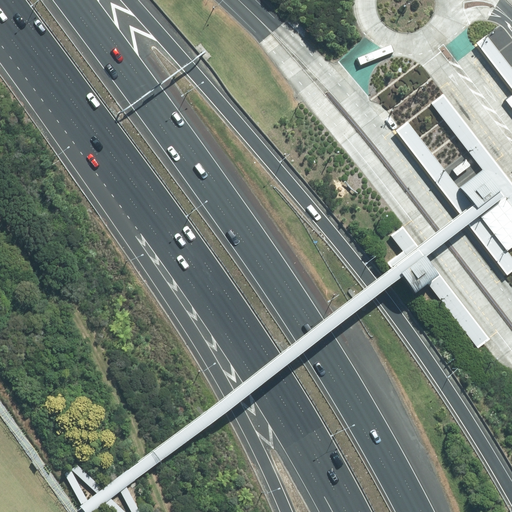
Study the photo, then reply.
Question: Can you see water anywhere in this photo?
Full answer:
No, the scene doesn't show any water.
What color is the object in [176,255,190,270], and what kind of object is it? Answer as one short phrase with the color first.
white vehicle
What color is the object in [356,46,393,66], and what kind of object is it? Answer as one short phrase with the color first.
white bus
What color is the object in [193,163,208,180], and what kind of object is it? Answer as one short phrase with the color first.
white vehicle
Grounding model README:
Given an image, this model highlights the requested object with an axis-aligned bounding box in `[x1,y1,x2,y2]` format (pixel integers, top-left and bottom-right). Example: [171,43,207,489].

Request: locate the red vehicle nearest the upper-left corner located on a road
[110,47,124,63]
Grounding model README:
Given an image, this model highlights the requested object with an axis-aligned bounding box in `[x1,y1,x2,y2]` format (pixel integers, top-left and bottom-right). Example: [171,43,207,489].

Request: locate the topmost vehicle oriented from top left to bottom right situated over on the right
[305,204,322,222]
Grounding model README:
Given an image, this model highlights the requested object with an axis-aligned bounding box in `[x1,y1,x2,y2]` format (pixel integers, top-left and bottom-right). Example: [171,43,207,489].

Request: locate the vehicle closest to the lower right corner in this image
[369,428,382,444]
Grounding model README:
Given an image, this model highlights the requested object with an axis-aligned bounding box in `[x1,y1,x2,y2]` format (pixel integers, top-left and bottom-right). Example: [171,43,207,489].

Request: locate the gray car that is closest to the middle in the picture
[226,230,240,245]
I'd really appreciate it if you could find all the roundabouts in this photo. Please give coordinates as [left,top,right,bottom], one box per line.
[357,0,452,52]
